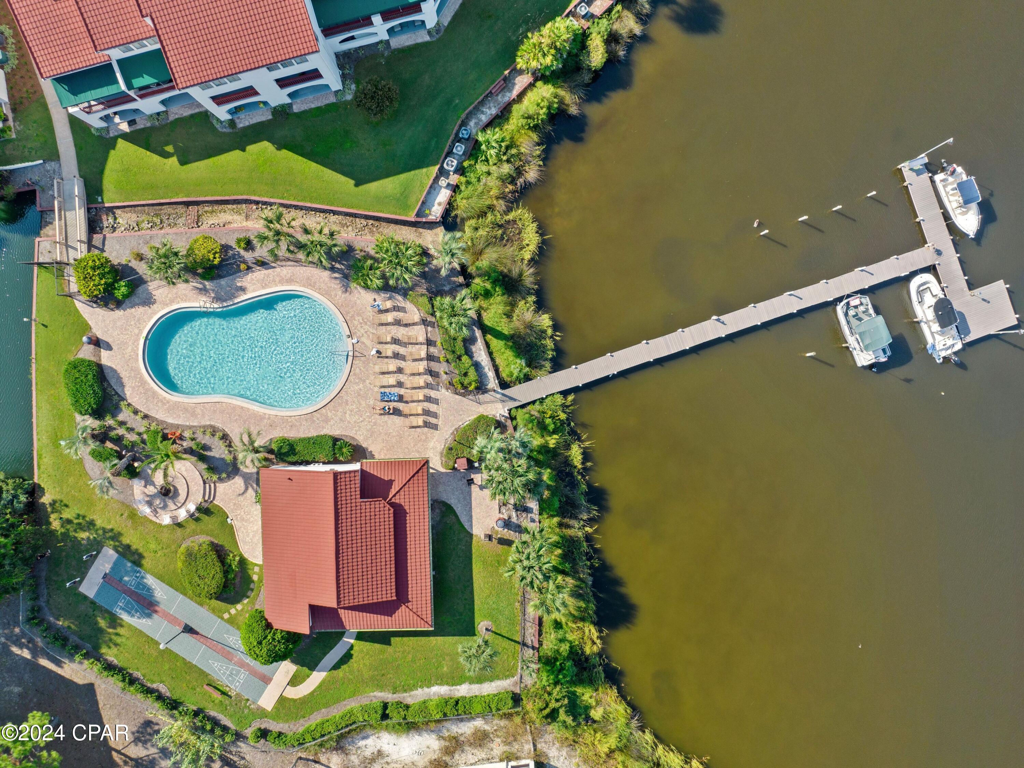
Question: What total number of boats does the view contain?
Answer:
3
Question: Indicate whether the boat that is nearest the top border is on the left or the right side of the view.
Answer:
right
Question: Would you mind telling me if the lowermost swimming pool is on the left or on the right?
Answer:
left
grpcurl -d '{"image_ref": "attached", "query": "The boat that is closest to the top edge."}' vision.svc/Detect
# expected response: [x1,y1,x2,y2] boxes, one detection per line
[934,155,983,236]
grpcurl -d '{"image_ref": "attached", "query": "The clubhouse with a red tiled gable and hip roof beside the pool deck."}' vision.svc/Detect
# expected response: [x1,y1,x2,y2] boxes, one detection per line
[259,456,436,636]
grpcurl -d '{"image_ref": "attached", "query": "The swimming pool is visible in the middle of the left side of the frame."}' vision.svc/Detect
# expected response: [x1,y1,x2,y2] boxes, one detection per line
[139,285,356,416]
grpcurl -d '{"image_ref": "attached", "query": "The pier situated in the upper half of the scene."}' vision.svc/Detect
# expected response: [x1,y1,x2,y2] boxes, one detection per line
[497,168,1022,412]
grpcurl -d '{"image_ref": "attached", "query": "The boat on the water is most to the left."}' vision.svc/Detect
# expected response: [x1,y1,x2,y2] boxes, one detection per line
[842,297,892,374]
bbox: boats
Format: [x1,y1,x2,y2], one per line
[914,273,966,374]
[842,297,892,374]
[934,155,983,236]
